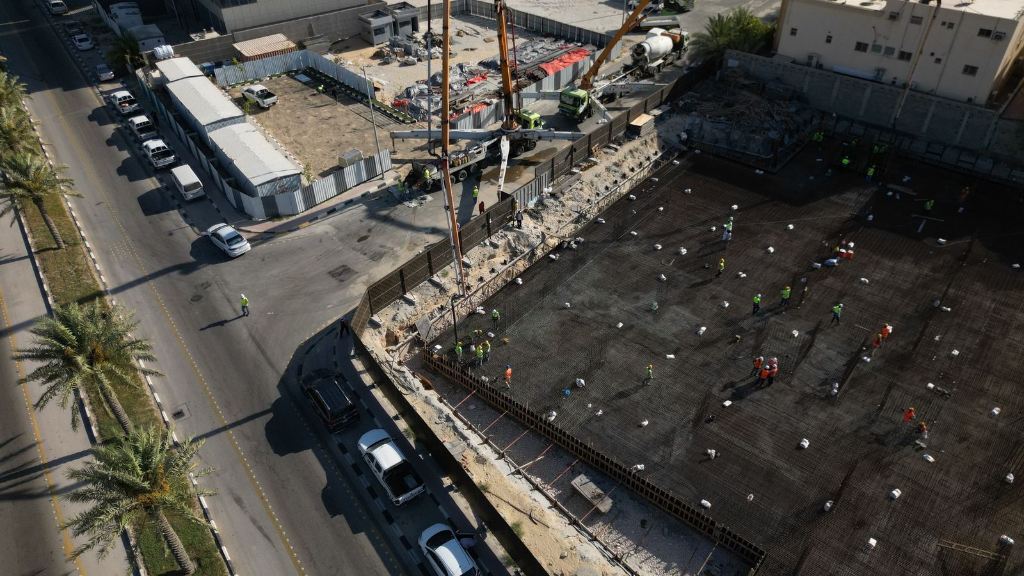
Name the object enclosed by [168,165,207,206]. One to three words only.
vehicle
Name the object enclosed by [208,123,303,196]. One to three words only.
building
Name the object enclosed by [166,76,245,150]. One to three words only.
building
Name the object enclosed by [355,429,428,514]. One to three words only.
truck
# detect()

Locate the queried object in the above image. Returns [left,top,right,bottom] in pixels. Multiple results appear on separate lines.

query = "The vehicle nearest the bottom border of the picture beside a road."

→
[419,518,490,576]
